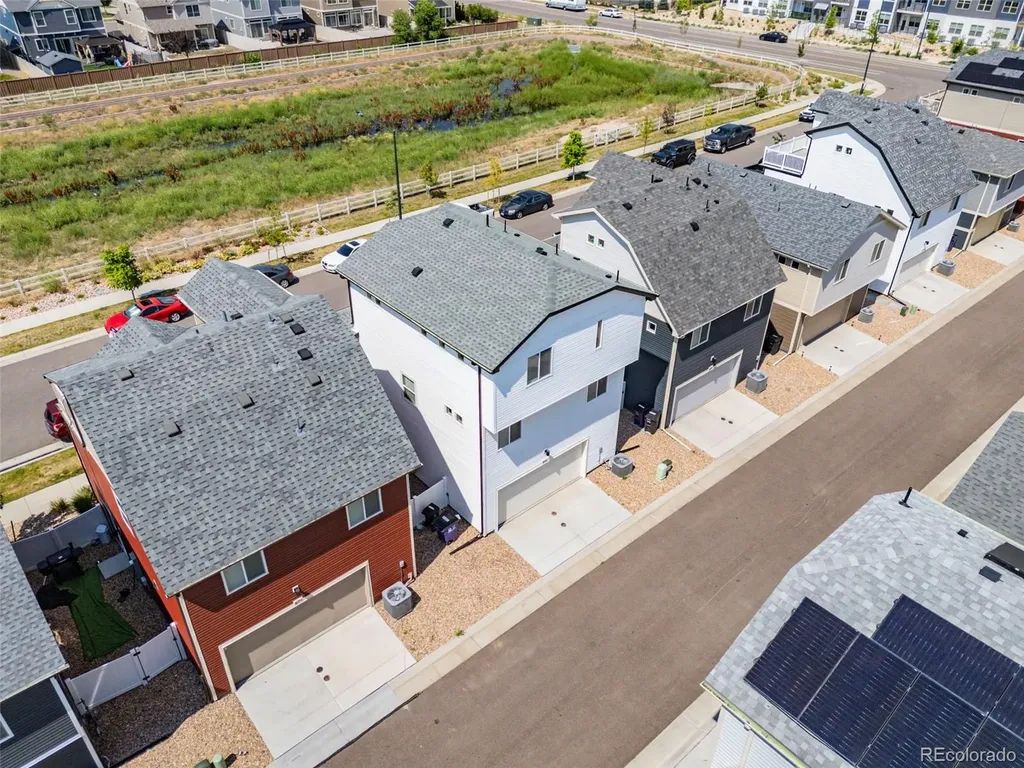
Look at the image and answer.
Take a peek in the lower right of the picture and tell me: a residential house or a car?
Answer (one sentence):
Visible in the lower right of the picture is a residential house.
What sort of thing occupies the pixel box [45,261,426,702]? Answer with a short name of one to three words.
house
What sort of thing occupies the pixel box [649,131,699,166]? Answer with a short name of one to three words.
car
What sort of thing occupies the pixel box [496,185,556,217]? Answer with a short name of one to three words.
car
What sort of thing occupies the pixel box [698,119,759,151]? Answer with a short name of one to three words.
truck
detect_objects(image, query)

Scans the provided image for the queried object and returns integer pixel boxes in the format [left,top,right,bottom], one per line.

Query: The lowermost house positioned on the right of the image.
[692,482,1024,768]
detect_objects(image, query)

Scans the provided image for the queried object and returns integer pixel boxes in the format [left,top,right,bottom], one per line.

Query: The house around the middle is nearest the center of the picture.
[336,206,663,550]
